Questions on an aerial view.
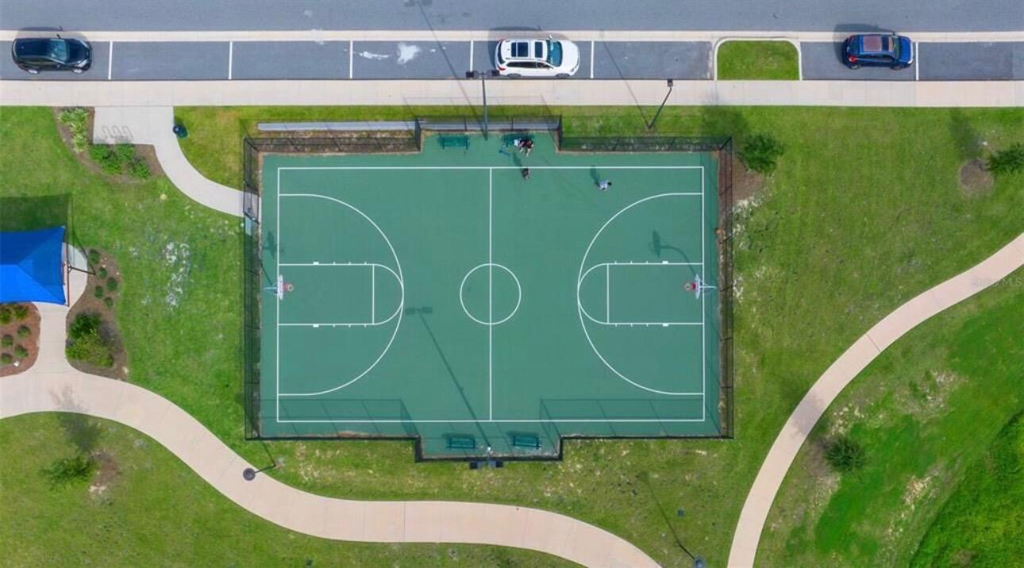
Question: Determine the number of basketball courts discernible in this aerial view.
1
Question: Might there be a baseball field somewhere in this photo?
No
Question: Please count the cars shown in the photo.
3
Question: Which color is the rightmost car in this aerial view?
blue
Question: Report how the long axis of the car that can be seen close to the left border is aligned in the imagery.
from side to side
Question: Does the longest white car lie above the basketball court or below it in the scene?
above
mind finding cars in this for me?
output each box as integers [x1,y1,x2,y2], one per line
[494,35,581,77]
[842,31,916,70]
[10,34,91,73]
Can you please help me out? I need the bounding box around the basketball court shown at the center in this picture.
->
[259,131,720,457]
